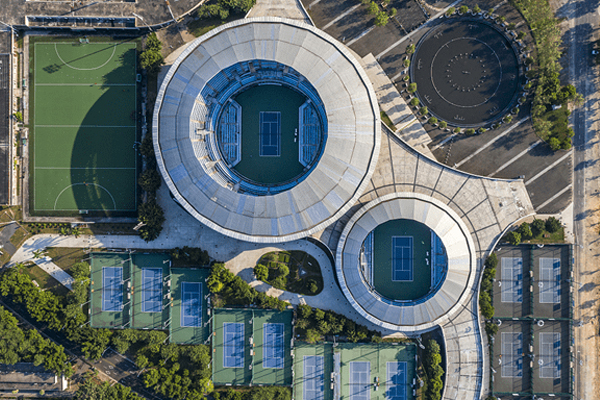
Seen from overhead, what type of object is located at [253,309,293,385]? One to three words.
tennis court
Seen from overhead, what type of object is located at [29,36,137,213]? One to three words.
sports field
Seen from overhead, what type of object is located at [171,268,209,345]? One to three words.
tennis court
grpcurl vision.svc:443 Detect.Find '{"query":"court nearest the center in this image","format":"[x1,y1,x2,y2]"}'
[259,111,281,156]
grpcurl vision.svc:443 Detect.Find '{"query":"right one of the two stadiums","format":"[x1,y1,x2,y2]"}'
[336,192,475,331]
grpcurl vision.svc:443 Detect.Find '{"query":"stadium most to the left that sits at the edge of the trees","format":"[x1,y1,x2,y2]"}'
[152,16,380,244]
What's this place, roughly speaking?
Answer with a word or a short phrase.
sports ground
